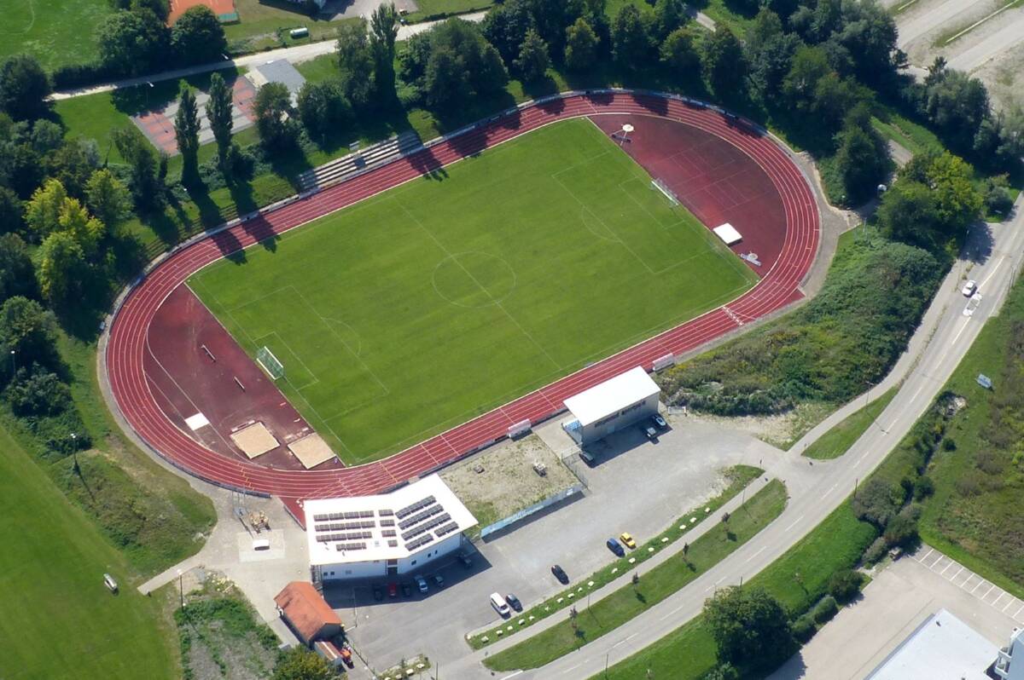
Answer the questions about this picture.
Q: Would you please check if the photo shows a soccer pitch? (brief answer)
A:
Yes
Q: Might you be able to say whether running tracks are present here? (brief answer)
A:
Yes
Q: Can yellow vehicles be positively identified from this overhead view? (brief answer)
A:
Yes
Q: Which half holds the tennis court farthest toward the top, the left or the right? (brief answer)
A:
left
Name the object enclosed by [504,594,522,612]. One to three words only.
car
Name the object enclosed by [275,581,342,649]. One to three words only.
barn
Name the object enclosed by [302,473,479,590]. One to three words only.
building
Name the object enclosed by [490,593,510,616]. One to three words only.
vehicle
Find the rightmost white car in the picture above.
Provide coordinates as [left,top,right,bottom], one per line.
[961,280,977,295]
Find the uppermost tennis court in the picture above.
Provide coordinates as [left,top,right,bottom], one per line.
[166,0,238,23]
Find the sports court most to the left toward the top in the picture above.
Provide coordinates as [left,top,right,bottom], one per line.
[136,107,178,151]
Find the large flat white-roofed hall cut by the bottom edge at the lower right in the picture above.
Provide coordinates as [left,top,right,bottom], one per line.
[859,609,1000,680]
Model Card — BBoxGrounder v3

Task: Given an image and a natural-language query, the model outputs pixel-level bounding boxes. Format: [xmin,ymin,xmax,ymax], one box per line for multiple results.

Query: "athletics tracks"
[109,93,819,499]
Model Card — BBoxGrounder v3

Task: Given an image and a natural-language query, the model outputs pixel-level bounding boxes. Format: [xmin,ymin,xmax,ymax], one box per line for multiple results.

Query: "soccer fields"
[185,115,761,466]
